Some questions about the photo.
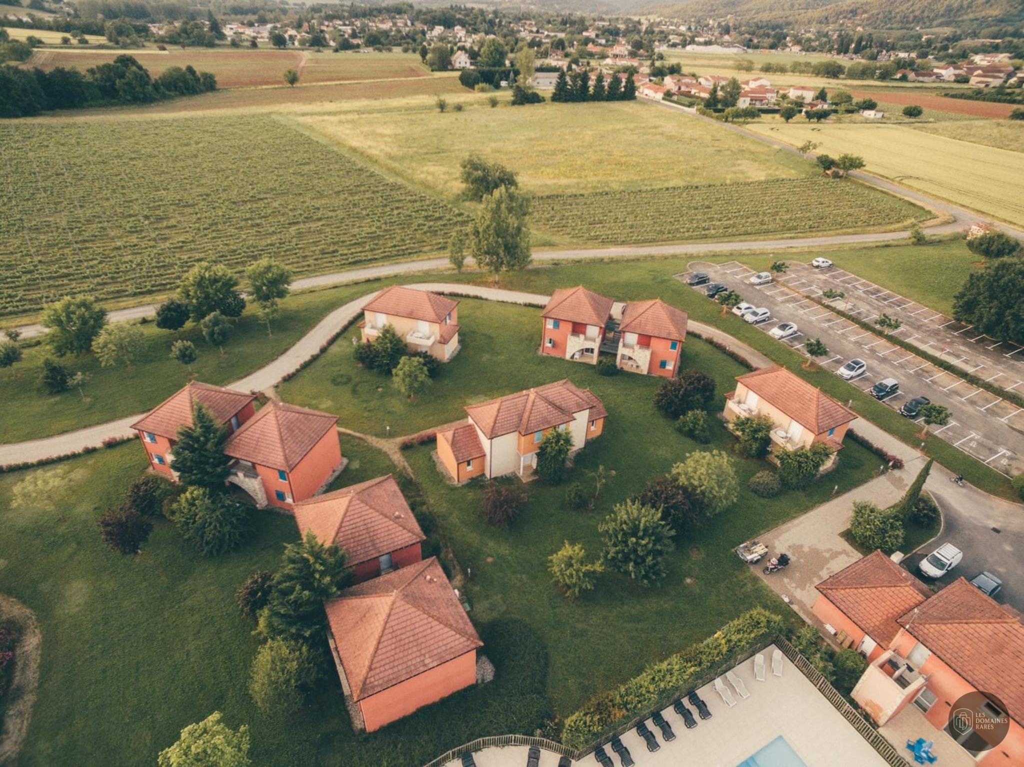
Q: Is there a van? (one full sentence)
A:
Yes, there's a van here.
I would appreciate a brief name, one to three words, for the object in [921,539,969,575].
van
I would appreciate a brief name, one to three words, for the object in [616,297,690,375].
house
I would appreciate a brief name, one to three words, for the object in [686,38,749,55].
building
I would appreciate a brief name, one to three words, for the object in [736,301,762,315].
car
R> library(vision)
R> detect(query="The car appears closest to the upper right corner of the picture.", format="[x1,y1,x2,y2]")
[813,258,835,270]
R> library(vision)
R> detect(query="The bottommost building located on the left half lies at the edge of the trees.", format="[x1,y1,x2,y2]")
[325,553,481,733]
